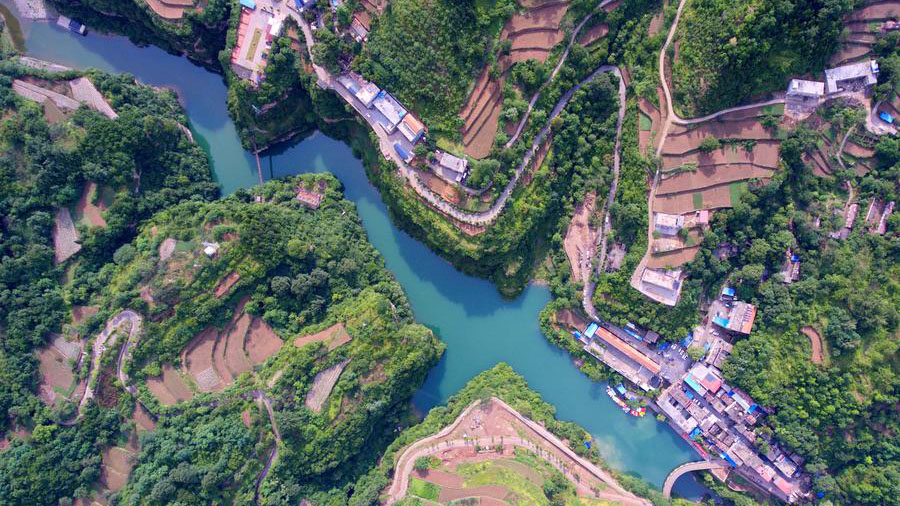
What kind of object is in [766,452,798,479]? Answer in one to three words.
house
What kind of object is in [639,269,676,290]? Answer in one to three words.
house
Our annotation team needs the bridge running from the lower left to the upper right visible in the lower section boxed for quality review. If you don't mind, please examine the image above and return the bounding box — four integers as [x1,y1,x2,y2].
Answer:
[658,457,723,506]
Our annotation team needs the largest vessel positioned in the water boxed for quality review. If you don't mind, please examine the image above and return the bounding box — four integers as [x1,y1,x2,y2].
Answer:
[57,16,88,35]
